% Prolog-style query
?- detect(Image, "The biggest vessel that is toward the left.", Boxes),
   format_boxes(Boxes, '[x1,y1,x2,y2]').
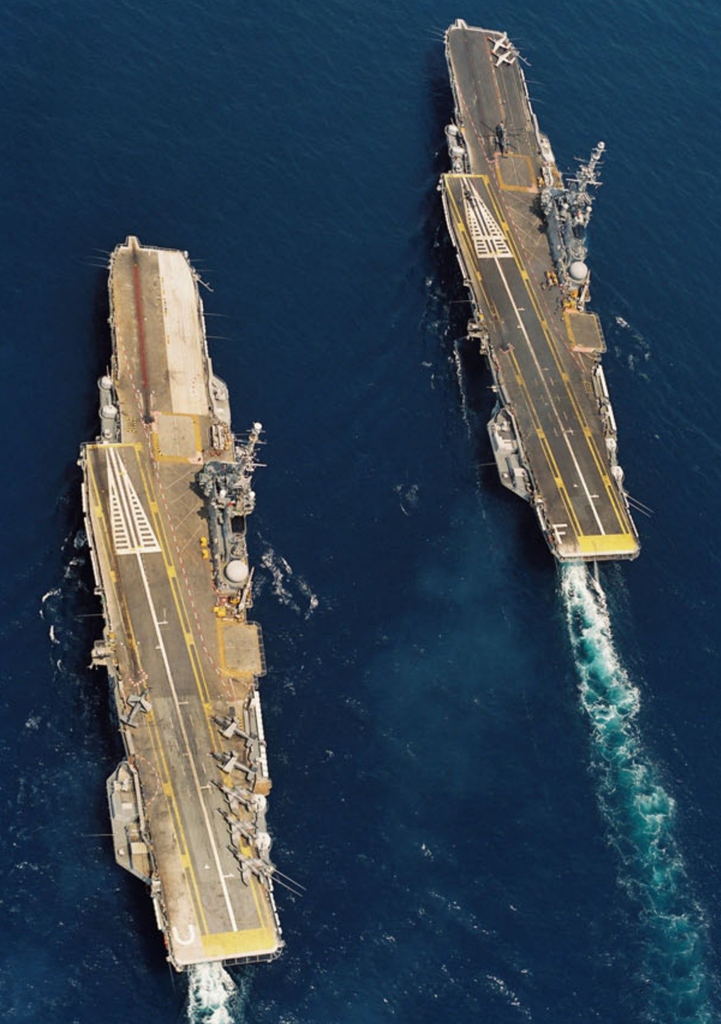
[76,235,307,973]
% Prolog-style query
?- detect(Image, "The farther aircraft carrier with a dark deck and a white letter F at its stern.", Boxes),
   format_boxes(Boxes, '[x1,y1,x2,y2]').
[428,18,657,563]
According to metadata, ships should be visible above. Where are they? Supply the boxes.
[428,18,657,563]
[76,235,307,973]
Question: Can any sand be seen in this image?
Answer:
No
